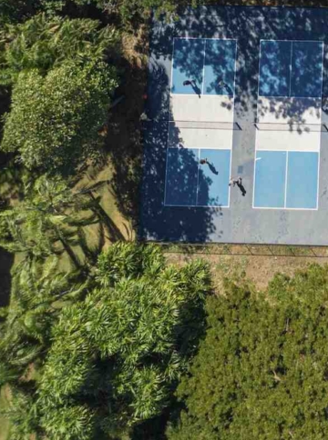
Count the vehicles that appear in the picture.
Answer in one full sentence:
There are no vehicles in this view.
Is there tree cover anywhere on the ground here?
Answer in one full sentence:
Yes, some tree cover is visible.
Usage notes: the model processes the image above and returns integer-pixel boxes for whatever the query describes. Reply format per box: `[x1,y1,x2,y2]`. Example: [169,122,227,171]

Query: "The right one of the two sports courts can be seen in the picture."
[253,40,324,210]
